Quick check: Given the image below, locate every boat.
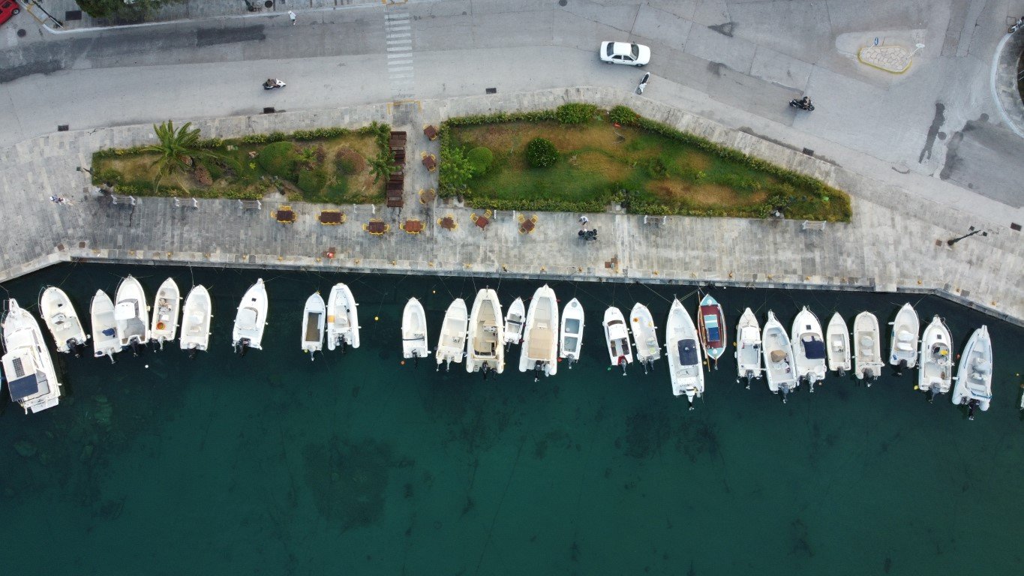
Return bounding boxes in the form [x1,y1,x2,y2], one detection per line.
[952,327,994,414]
[1019,371,1024,410]
[0,362,5,408]
[400,298,431,371]
[90,289,123,365]
[560,298,585,372]
[150,277,183,353]
[325,284,362,357]
[826,312,852,377]
[791,307,828,394]
[602,306,633,374]
[888,303,922,377]
[519,286,561,383]
[302,292,327,362]
[0,303,63,418]
[231,280,267,357]
[112,275,152,356]
[733,308,762,388]
[178,284,214,362]
[434,298,469,372]
[630,303,663,371]
[40,286,91,358]
[664,296,706,411]
[762,311,799,402]
[917,315,957,405]
[850,312,886,388]
[696,292,726,371]
[504,297,526,351]
[465,285,505,378]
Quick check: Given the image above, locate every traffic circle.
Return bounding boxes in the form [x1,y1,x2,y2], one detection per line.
[991,24,1024,130]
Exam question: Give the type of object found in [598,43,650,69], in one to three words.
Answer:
car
